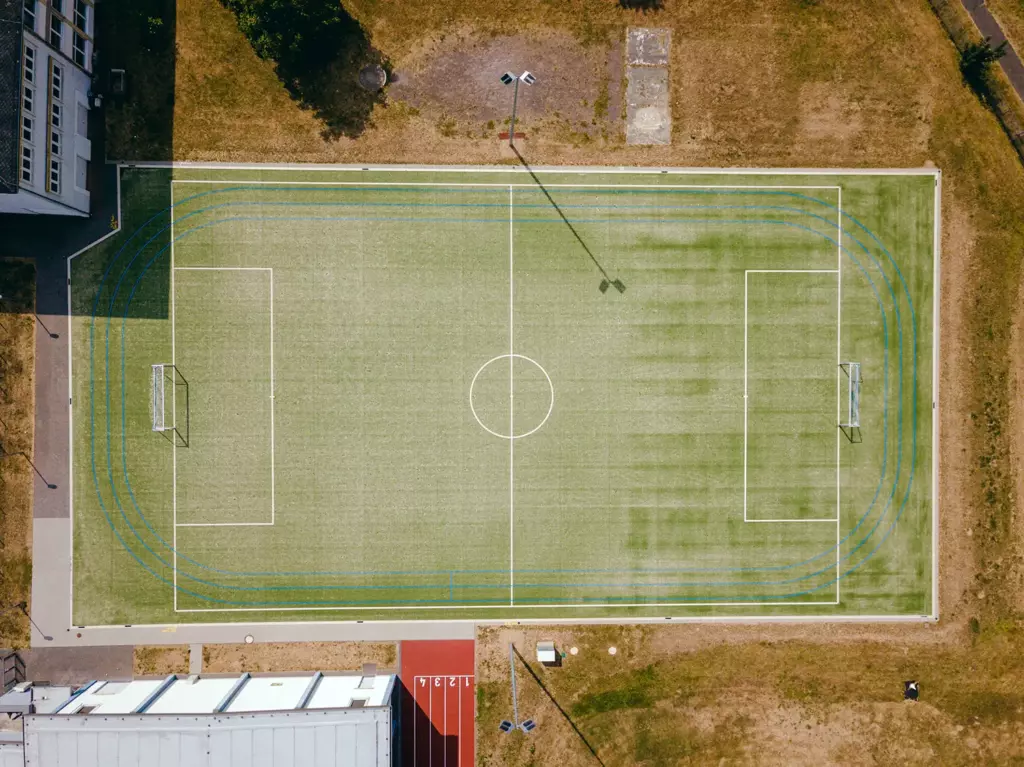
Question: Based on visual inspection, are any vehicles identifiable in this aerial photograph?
No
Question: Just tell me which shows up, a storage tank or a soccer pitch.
soccer pitch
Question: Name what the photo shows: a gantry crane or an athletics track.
athletics track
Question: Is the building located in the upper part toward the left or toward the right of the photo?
left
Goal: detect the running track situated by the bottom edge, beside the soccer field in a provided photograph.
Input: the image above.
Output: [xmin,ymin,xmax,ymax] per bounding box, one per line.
[401,640,475,767]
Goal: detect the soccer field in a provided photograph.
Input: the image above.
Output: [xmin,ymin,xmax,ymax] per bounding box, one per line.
[66,158,941,632]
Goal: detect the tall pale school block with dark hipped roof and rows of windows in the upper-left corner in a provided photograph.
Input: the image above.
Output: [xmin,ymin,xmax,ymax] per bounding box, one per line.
[0,0,95,218]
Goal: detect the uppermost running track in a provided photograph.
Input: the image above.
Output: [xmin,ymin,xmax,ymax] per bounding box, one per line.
[90,187,916,605]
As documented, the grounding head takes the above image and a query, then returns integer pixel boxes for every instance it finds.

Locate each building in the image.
[23,670,397,767]
[0,0,95,218]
